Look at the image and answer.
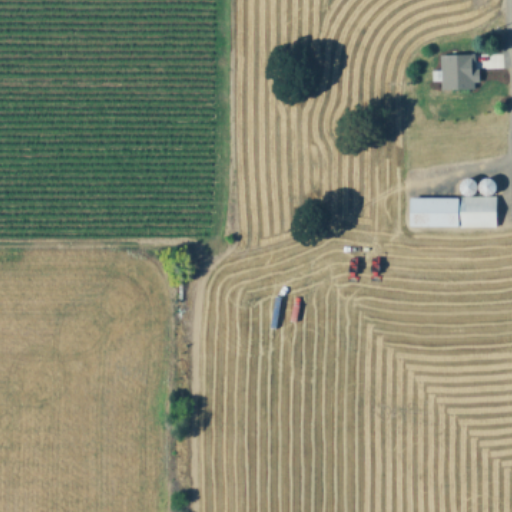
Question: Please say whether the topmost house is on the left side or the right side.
right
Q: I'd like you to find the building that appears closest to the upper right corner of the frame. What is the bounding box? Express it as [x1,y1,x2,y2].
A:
[433,54,480,90]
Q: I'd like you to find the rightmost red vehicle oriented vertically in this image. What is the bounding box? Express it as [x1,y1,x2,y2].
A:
[370,256,383,282]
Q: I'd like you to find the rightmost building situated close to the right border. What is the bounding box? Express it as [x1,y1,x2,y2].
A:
[462,196,498,228]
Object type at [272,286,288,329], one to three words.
vehicle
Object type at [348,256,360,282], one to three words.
vehicle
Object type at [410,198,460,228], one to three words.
barn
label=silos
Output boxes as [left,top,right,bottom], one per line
[479,178,498,196]
[460,178,480,196]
